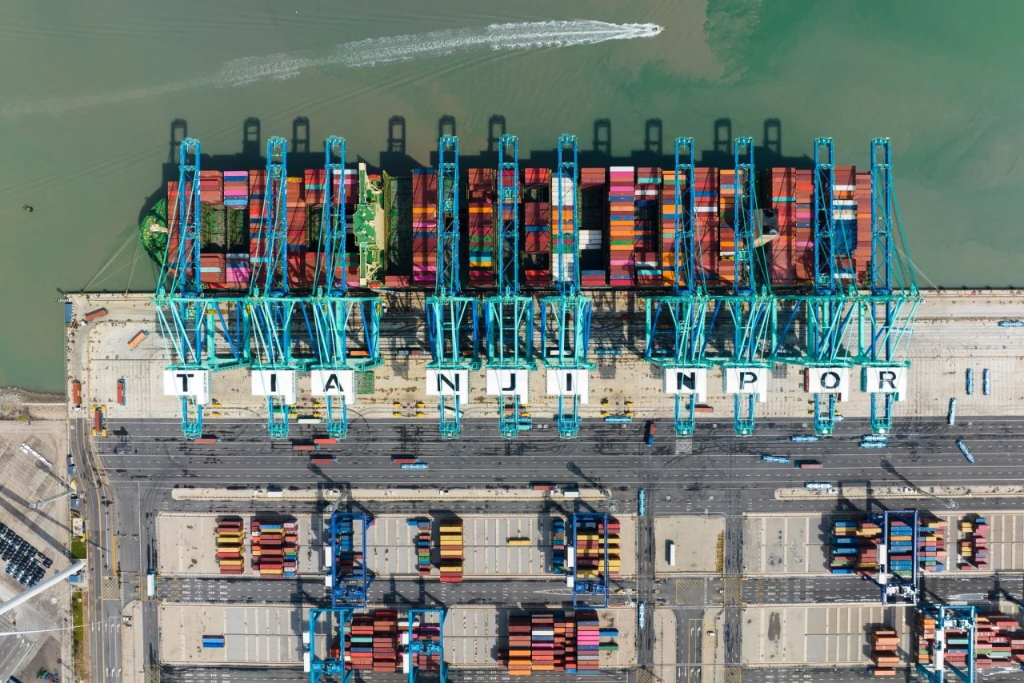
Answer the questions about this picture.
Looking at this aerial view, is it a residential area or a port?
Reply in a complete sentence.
The picture captures a port.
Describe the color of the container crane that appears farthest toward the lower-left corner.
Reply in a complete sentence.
In this view, the container crane that appears farthest toward the lower-left corner is blue.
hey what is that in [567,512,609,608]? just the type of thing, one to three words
container crane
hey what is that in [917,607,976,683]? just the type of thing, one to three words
container crane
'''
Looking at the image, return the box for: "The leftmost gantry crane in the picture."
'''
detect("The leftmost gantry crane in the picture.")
[149,135,262,437]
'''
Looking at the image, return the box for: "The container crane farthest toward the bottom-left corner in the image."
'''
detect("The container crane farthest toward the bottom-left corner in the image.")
[304,607,357,683]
